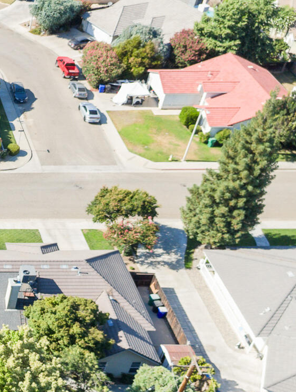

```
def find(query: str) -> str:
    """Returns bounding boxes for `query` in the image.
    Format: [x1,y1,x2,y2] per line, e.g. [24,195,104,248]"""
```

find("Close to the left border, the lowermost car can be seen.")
[7,81,32,103]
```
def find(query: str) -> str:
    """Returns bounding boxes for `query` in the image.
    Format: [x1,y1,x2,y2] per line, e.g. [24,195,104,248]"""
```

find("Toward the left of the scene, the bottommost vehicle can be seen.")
[77,102,105,123]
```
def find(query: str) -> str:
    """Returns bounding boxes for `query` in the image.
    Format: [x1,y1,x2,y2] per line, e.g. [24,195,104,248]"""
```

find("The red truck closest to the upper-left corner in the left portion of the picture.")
[53,55,86,80]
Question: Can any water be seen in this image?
No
